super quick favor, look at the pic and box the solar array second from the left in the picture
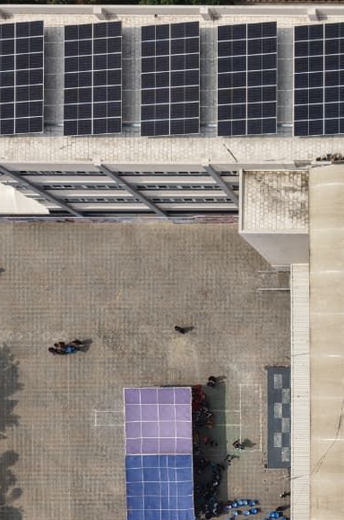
[65,21,128,142]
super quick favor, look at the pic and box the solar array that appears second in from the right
[217,21,278,142]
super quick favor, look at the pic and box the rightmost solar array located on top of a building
[295,22,344,142]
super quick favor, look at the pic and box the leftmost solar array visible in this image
[0,21,52,142]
